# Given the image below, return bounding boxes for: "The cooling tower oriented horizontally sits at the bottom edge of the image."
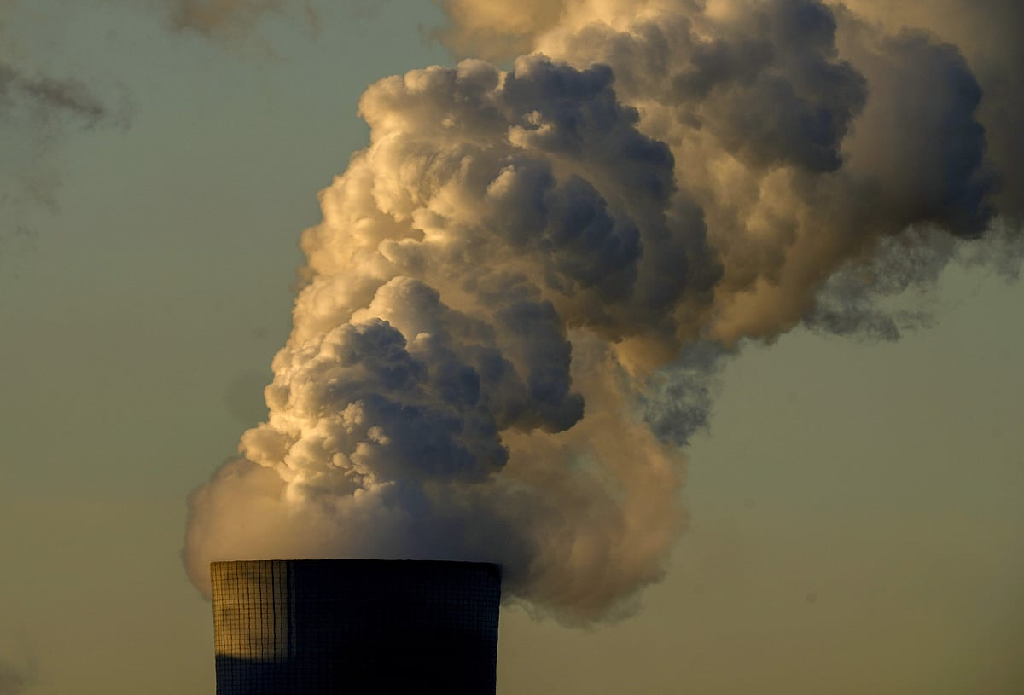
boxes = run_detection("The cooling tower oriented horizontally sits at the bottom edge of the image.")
[210,555,500,695]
